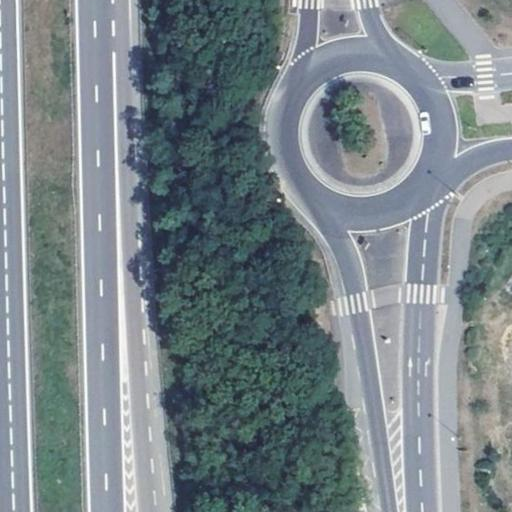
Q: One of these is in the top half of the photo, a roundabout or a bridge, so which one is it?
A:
roundabout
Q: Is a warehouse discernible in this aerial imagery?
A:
No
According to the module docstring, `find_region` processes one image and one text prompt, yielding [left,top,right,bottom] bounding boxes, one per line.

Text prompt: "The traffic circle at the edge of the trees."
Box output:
[264,36,458,231]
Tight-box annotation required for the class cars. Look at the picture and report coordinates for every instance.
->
[420,112,430,135]
[451,76,474,88]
